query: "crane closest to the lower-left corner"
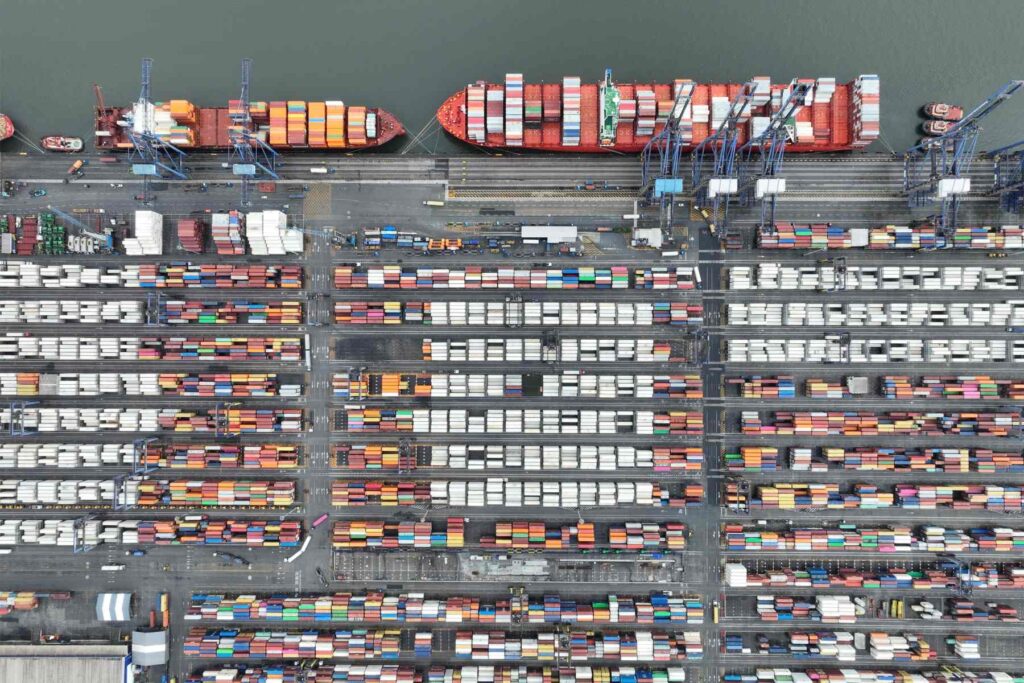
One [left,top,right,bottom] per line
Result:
[72,512,103,552]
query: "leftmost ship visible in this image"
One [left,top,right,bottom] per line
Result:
[0,115,22,143]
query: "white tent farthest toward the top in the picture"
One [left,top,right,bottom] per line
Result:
[93,591,134,621]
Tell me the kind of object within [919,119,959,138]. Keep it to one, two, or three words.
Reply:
boat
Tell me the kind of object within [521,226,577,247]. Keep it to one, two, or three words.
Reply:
shed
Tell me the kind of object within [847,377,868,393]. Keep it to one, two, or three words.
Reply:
building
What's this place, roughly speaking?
port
